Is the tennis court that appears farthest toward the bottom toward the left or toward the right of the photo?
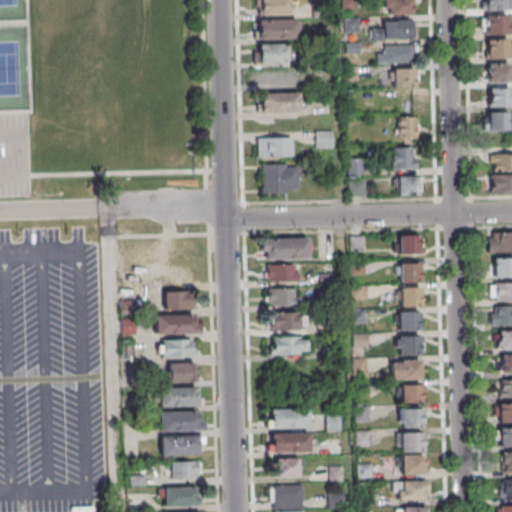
left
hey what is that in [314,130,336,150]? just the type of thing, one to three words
building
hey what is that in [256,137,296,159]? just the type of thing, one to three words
house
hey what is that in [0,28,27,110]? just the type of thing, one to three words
tennis court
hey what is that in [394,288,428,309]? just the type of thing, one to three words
house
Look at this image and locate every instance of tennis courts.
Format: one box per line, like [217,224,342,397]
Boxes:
[0,28,27,110]
[0,0,26,20]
